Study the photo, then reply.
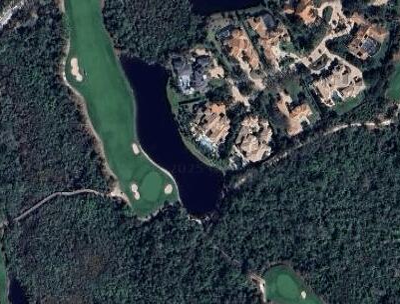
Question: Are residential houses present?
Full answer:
Yes, the photo shows a residential house.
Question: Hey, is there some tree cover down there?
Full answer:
Yes, there's tree cover in this view.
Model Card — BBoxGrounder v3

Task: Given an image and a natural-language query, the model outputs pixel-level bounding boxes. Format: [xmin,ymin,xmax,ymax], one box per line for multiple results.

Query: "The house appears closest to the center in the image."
[193,99,235,153]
